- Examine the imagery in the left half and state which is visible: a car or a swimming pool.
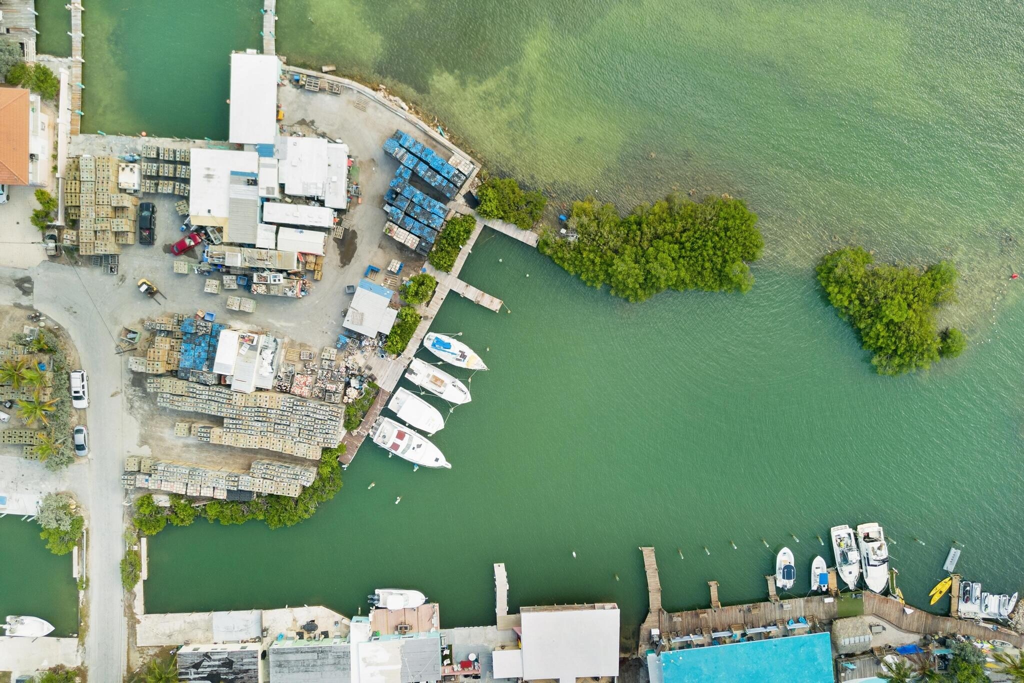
car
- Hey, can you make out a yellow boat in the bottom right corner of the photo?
Yes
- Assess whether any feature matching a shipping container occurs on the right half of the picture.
No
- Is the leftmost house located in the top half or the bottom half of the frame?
top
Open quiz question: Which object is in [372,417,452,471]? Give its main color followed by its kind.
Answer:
white boat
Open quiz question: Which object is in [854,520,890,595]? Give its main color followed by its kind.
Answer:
white boat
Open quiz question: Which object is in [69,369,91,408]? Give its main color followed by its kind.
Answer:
white car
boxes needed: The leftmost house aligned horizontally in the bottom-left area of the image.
[177,642,266,683]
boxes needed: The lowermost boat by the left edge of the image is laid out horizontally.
[1,615,60,636]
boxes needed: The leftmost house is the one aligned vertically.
[0,86,44,187]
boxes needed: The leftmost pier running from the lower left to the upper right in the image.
[341,389,390,465]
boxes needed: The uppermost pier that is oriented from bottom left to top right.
[365,224,484,394]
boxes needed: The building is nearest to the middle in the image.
[343,279,399,338]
